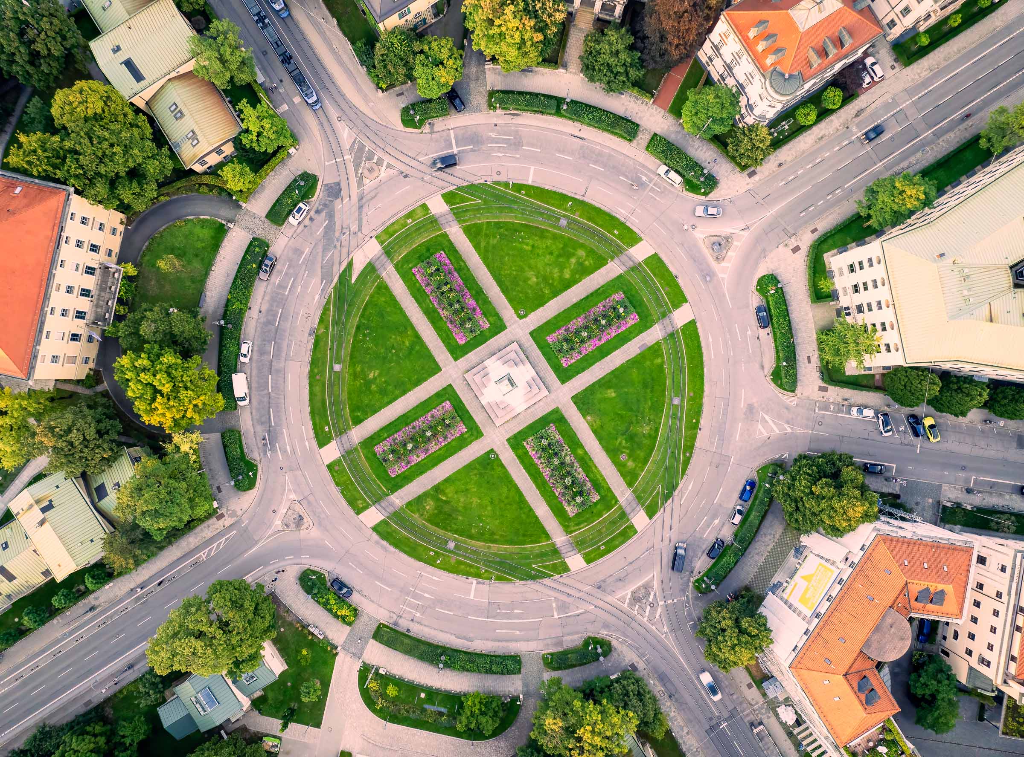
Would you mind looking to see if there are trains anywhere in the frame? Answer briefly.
Yes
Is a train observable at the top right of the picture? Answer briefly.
No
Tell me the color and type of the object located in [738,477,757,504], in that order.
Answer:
blue car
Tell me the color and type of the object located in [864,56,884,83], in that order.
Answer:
white car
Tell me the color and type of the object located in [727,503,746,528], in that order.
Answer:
white car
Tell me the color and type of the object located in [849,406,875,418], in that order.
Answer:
white vehicle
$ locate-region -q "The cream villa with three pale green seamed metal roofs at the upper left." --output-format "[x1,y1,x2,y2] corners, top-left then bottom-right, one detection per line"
[81,0,249,172]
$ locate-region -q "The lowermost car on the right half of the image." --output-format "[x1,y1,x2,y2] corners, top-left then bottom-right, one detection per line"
[701,671,720,700]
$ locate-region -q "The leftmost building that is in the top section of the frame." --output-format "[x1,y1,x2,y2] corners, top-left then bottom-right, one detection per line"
[0,172,131,384]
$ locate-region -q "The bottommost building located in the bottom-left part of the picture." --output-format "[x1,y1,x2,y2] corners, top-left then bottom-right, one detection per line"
[161,651,291,741]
